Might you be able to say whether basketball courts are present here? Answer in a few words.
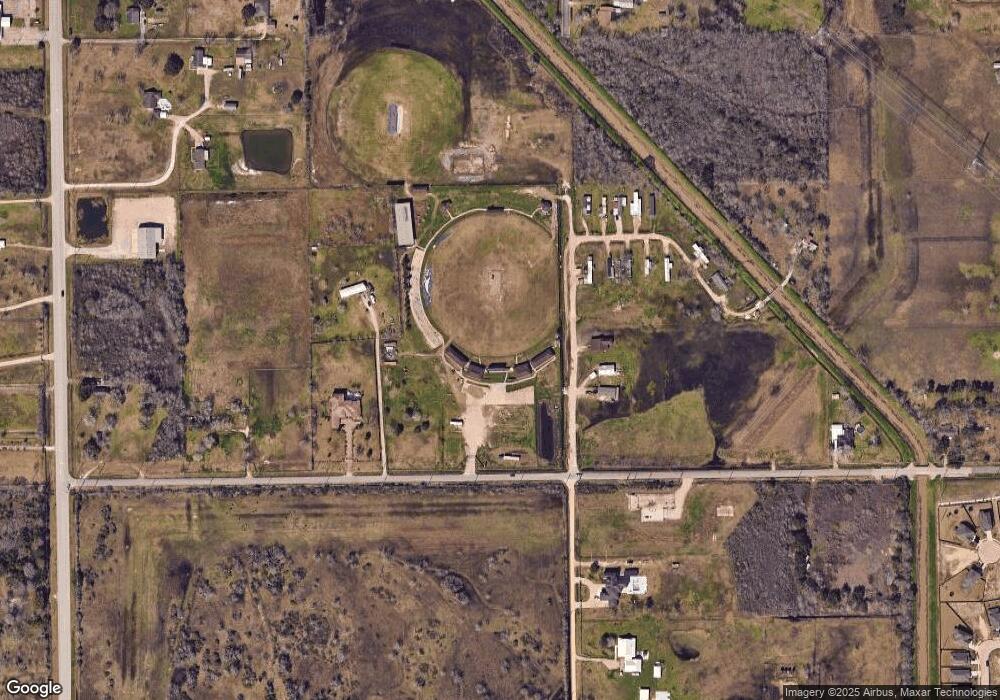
No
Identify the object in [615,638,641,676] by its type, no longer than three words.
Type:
house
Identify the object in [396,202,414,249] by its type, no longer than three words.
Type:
building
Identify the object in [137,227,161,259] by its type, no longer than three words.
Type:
building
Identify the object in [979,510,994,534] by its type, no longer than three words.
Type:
house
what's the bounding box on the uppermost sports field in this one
[329,48,462,186]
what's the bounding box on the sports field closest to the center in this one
[432,213,557,355]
